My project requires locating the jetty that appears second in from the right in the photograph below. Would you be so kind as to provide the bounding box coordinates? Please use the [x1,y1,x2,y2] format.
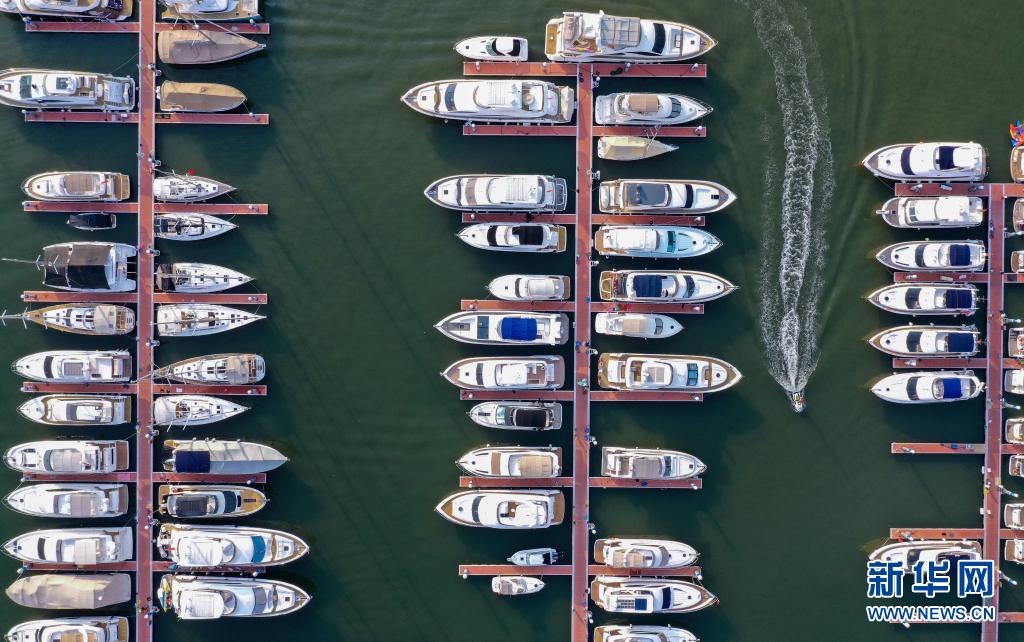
[459,61,706,642]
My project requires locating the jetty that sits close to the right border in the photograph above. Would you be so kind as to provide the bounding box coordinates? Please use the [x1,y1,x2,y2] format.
[888,182,1024,642]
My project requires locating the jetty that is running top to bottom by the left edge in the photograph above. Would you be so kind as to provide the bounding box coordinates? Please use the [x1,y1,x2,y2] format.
[23,0,270,642]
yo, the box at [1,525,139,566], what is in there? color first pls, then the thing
white boat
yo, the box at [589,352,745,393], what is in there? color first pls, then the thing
white boat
